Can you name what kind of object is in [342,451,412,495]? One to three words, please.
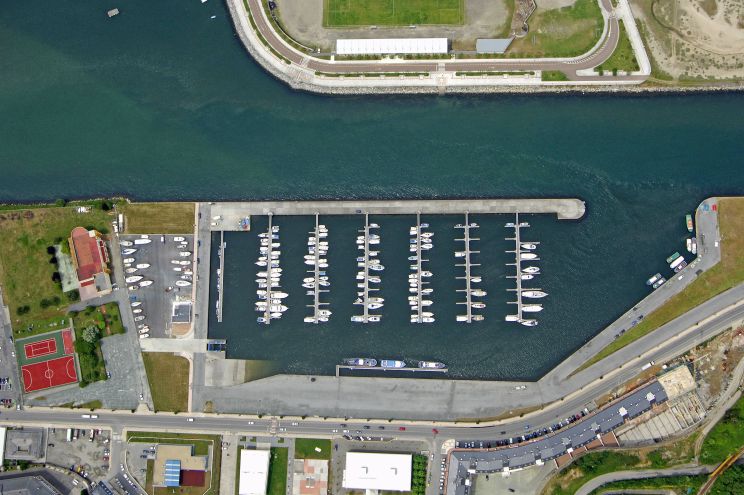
building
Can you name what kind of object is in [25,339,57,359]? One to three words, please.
tennis court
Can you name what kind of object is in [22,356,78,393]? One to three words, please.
sports court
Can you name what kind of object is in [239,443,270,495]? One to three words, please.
building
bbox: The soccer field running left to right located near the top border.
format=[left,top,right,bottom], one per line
[323,0,466,27]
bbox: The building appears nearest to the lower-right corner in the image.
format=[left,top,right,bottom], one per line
[668,390,706,430]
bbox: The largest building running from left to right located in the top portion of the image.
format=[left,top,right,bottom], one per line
[476,39,511,54]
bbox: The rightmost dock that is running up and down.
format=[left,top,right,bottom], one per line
[504,212,542,321]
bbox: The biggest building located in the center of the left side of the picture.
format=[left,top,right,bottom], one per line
[68,227,112,293]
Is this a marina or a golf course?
marina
